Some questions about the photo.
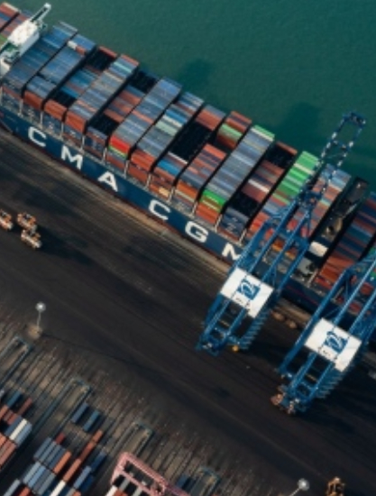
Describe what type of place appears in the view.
port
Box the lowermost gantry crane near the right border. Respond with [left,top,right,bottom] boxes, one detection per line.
[270,251,376,421]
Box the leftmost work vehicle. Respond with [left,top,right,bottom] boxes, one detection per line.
[0,209,20,234]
